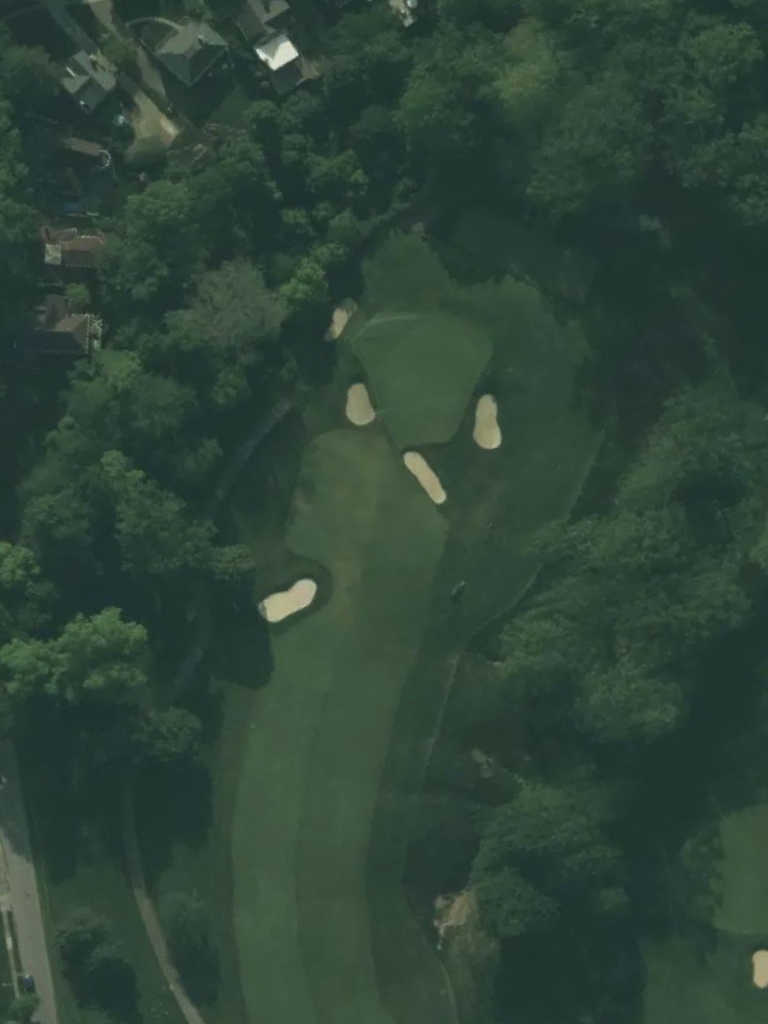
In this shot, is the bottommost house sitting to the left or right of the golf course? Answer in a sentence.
The bottommost house appears to the left of the golf course in this view.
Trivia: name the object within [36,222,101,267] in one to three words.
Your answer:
house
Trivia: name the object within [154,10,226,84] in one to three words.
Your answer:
house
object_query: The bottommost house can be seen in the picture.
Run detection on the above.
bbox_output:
[30,292,102,353]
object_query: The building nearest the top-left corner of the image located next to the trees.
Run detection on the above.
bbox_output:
[60,44,115,109]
